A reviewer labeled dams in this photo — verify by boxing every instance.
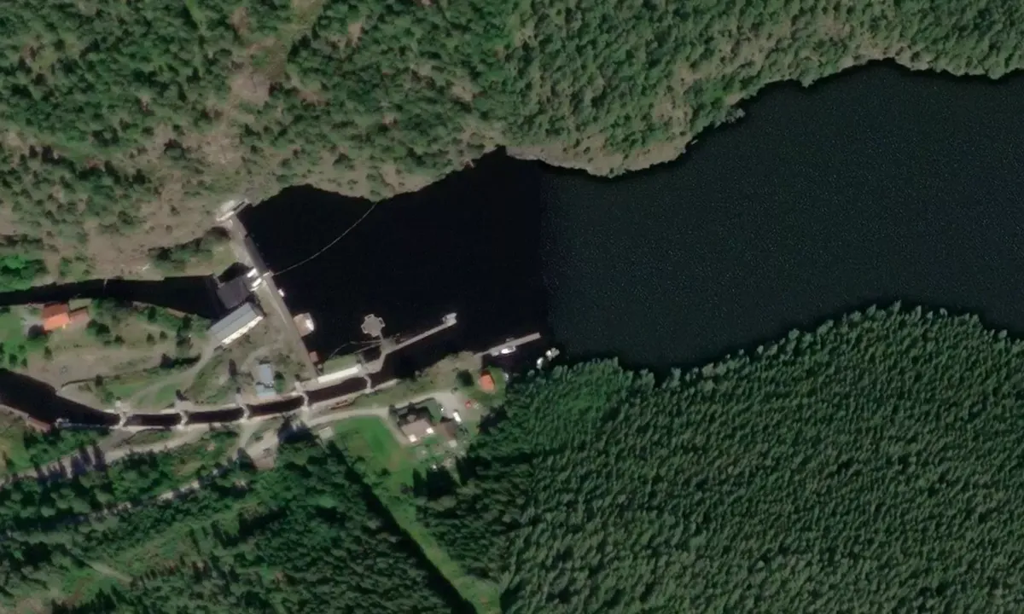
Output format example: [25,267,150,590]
[216,200,319,378]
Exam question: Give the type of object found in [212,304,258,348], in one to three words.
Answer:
building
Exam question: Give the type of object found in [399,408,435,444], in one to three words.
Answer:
house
